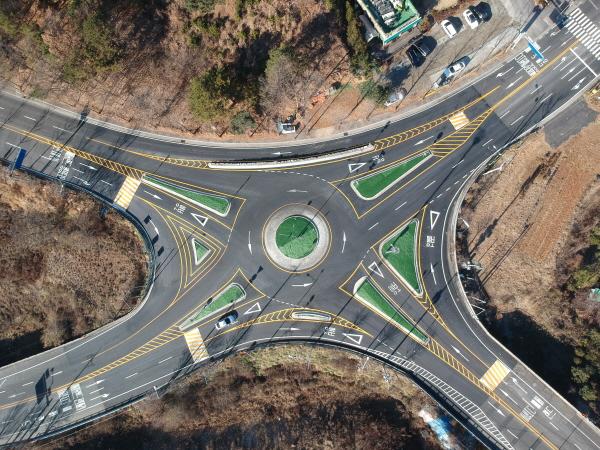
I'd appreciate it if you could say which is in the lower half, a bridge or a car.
car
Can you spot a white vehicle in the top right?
Yes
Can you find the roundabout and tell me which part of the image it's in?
center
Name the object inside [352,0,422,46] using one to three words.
building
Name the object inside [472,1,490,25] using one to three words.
car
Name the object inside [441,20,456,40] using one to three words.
car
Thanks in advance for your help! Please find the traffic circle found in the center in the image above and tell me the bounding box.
[142,142,432,344]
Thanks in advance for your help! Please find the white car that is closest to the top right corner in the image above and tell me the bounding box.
[462,8,480,30]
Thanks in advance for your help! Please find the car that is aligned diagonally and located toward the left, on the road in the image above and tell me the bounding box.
[214,311,238,330]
